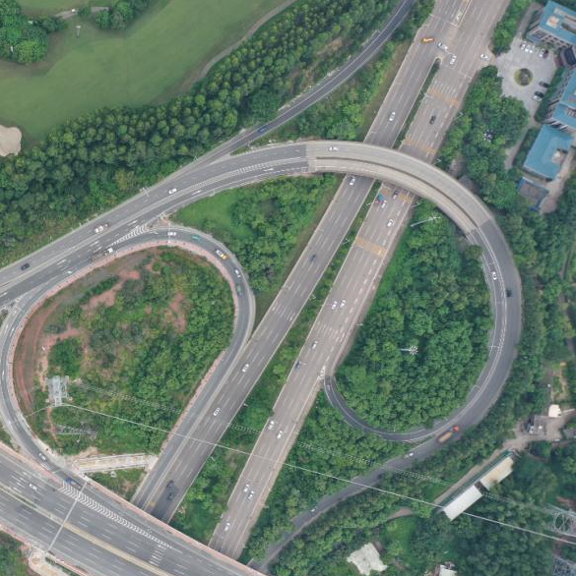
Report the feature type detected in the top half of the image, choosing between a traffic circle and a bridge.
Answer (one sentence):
There is a bridge in the top half of the image.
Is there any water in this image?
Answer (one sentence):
No, the picture contains no water.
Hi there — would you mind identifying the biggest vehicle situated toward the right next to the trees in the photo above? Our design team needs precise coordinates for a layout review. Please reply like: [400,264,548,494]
[438,424,463,443]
